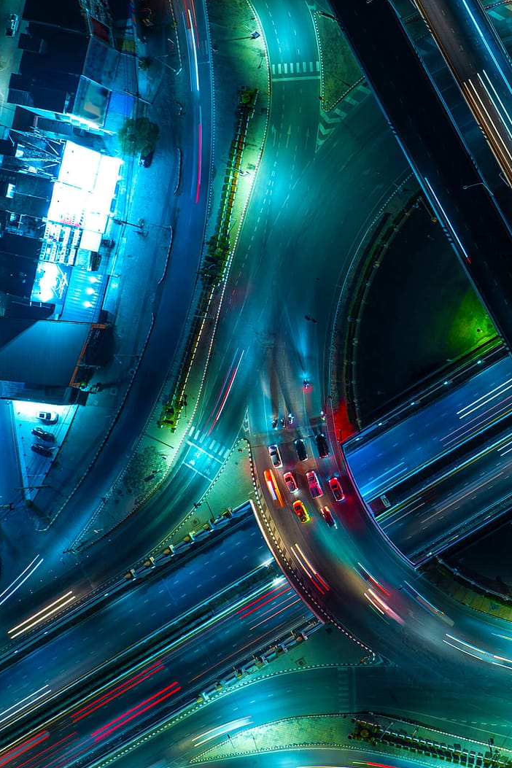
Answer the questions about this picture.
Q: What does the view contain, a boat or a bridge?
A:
bridge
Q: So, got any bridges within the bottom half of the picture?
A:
Yes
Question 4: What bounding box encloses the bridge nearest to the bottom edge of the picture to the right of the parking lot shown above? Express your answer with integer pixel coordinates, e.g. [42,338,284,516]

[250,436,416,624]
